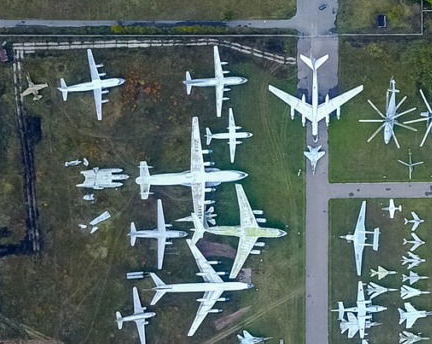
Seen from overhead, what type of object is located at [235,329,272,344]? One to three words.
airplane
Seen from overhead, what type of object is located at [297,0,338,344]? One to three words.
runway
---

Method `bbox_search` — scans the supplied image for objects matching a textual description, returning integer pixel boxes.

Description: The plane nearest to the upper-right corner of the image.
[269,50,359,138]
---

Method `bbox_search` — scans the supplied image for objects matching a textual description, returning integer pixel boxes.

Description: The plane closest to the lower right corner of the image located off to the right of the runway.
[400,332,430,344]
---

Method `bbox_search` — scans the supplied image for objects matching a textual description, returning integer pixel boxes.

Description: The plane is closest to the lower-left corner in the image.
[115,287,156,344]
